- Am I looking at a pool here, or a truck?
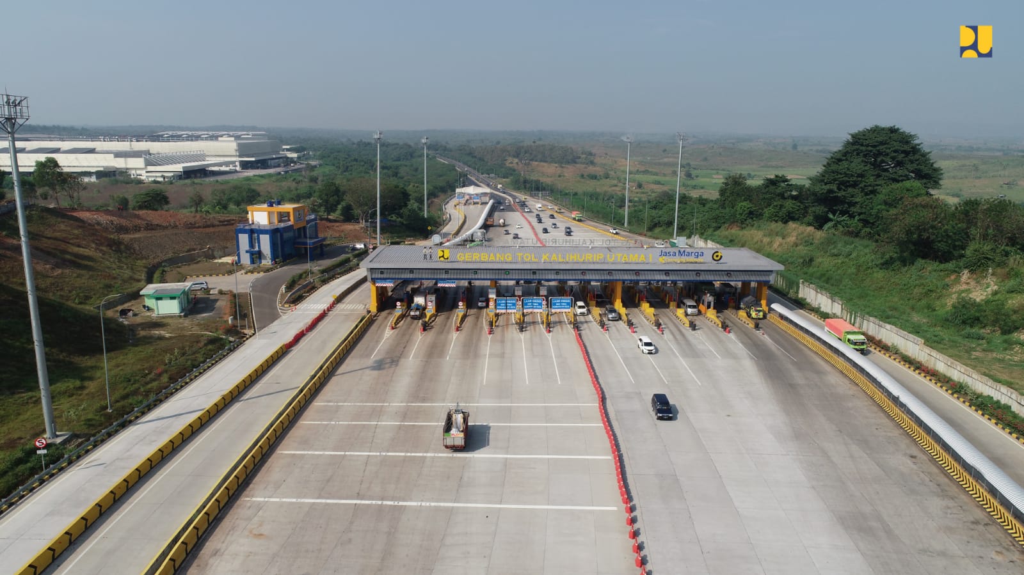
truck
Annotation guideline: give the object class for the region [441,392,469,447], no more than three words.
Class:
truck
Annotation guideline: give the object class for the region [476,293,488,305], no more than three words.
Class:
vehicle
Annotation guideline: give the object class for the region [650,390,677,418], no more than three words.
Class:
car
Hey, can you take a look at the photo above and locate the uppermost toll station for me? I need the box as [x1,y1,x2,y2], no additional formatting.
[454,184,492,204]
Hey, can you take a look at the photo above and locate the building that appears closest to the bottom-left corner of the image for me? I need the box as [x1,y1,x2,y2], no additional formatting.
[125,280,198,316]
